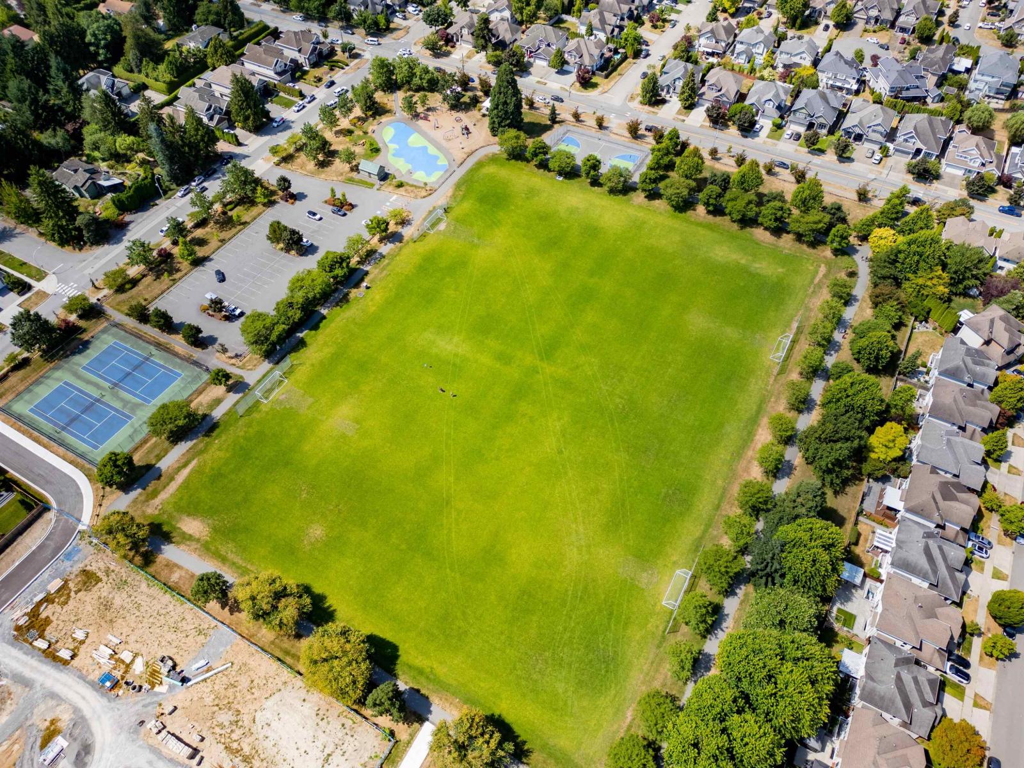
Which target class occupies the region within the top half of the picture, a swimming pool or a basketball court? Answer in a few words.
basketball court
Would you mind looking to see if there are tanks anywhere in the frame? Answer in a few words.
No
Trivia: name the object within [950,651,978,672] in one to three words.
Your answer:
car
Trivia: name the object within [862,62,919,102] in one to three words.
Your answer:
house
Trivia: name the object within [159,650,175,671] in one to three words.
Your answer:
work vehicle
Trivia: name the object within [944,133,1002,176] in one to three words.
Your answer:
house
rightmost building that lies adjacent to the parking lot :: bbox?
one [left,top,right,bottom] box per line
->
[353,154,387,179]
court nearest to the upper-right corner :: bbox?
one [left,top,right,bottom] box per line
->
[546,122,653,176]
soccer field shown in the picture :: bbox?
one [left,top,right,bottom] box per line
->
[115,145,854,768]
